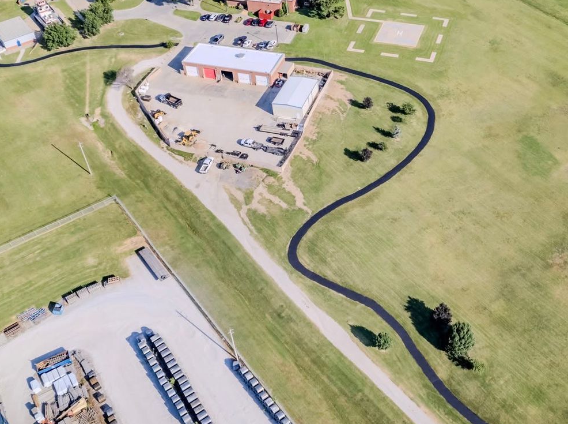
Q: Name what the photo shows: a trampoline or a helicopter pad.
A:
helicopter pad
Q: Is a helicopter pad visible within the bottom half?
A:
No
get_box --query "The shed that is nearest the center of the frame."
[272,76,319,122]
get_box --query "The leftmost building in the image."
[0,18,38,53]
